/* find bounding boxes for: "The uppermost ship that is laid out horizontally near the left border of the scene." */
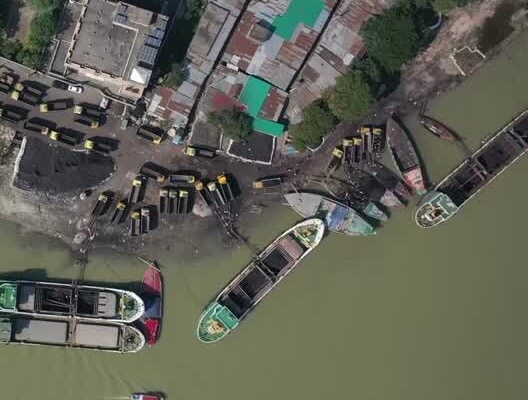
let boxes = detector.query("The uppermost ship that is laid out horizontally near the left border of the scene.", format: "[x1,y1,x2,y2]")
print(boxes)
[0,280,146,323]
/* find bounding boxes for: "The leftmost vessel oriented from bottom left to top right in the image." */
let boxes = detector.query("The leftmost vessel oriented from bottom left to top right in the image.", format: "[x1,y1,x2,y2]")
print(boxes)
[197,217,326,340]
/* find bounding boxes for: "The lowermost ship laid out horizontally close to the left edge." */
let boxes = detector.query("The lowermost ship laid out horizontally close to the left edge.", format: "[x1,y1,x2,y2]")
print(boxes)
[0,314,147,355]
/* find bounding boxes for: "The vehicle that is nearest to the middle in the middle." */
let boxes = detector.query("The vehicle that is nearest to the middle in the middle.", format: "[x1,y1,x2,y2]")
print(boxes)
[252,176,280,188]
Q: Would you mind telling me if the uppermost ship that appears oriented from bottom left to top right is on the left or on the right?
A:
right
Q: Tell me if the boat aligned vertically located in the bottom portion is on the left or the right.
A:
left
